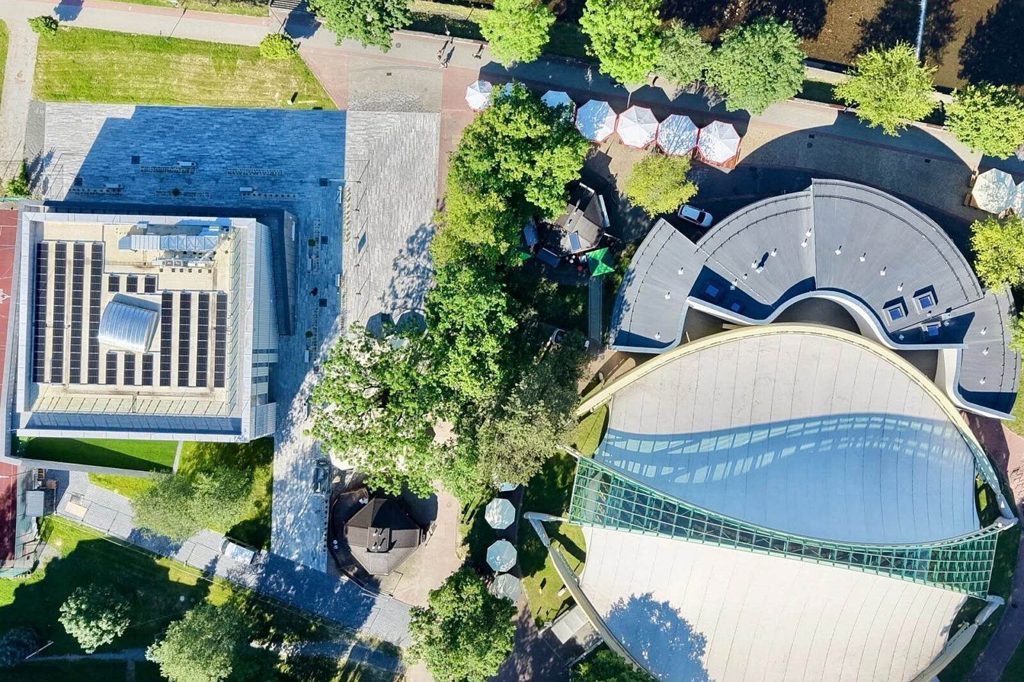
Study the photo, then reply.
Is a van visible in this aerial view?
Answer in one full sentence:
Yes, the frame does contain a van.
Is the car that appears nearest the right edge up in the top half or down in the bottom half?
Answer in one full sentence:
The car that appears nearest the right edge is in the top half of the image.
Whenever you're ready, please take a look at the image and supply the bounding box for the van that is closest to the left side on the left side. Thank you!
[215,539,257,570]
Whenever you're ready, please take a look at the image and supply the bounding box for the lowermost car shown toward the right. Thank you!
[680,203,716,226]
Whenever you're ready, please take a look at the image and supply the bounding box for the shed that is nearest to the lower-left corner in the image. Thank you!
[26,486,58,517]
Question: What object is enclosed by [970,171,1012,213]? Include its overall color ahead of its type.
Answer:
white umbrella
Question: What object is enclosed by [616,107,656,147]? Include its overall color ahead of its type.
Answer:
white umbrella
